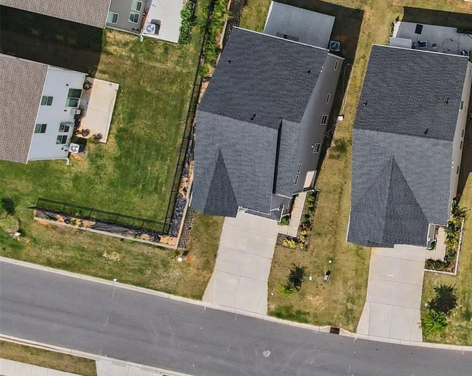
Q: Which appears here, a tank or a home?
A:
home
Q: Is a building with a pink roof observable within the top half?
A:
No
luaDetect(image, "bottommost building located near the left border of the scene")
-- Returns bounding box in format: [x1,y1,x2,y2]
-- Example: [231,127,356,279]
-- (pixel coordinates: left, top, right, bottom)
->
[0,55,87,163]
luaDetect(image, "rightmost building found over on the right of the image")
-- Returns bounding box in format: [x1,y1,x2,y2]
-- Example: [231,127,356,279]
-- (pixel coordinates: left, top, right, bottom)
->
[346,42,472,250]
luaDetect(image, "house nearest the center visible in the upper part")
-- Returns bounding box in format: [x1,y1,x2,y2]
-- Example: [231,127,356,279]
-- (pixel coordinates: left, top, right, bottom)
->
[187,25,345,226]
